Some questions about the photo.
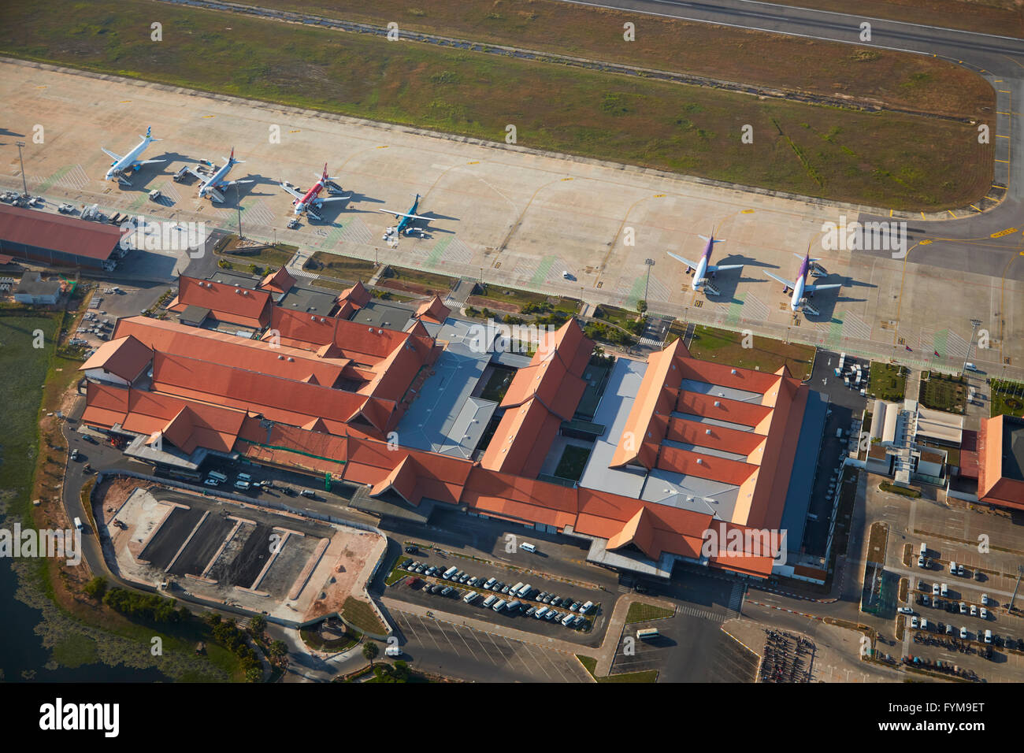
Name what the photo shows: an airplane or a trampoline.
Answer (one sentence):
Of the two, only an airplane appears.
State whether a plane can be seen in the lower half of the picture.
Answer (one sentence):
No, there is no plane in the lower half of the picture.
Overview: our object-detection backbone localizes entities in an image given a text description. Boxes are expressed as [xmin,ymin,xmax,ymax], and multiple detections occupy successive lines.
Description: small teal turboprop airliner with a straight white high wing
[379,196,436,235]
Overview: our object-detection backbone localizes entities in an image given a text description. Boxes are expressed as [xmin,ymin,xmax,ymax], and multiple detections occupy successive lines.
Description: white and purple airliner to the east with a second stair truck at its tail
[761,251,839,309]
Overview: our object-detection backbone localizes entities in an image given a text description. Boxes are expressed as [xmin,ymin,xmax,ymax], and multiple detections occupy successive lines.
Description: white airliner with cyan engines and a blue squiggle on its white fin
[94,129,160,179]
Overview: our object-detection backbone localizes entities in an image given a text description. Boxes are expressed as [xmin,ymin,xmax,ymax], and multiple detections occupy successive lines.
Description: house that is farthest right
[959,414,1024,524]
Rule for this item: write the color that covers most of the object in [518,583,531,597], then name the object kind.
white vehicle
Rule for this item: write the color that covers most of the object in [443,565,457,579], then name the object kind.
white vehicle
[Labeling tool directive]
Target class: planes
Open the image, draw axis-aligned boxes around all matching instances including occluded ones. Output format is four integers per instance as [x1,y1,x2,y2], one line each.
[94,129,160,179]
[761,251,839,309]
[185,146,252,198]
[281,163,351,215]
[666,235,742,290]
[379,196,436,235]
